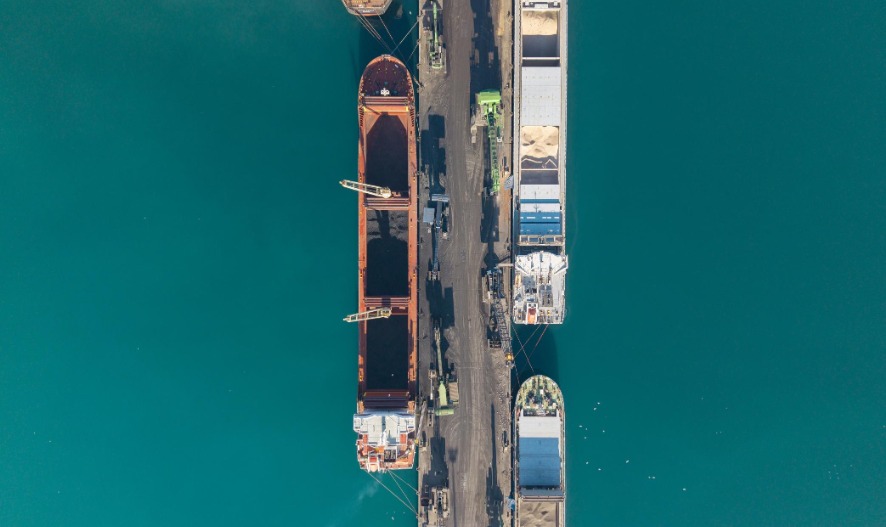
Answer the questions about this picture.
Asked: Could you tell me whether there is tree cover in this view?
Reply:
No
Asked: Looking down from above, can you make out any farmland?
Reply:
No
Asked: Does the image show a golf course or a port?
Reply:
port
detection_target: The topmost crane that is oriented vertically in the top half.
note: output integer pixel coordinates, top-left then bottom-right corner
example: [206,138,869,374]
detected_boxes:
[427,0,449,74]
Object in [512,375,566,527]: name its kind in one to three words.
ship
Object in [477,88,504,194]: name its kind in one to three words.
crane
